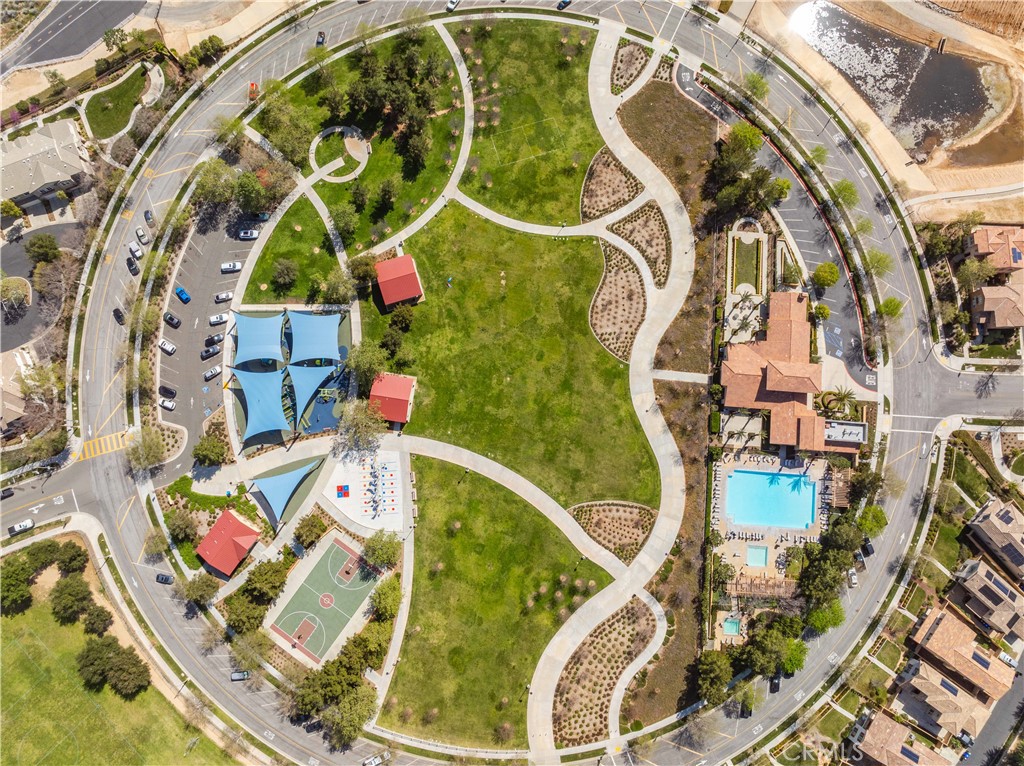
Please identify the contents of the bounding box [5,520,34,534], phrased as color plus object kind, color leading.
white vehicle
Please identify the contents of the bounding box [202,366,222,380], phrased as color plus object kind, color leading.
white car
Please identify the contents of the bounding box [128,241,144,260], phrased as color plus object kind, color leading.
white car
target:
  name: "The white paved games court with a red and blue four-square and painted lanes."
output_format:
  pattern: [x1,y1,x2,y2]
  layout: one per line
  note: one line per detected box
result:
[324,451,403,532]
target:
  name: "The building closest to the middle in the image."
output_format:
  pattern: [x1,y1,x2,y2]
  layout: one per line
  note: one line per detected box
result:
[374,373,419,426]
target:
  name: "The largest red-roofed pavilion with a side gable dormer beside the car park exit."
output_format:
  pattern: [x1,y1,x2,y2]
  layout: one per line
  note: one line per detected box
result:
[197,510,261,580]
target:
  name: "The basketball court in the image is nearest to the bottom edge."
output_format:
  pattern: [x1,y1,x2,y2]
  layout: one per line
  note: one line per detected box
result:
[261,542,393,670]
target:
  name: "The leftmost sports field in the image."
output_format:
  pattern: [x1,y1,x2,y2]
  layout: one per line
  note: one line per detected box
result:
[0,630,144,766]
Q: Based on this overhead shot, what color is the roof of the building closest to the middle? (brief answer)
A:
red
